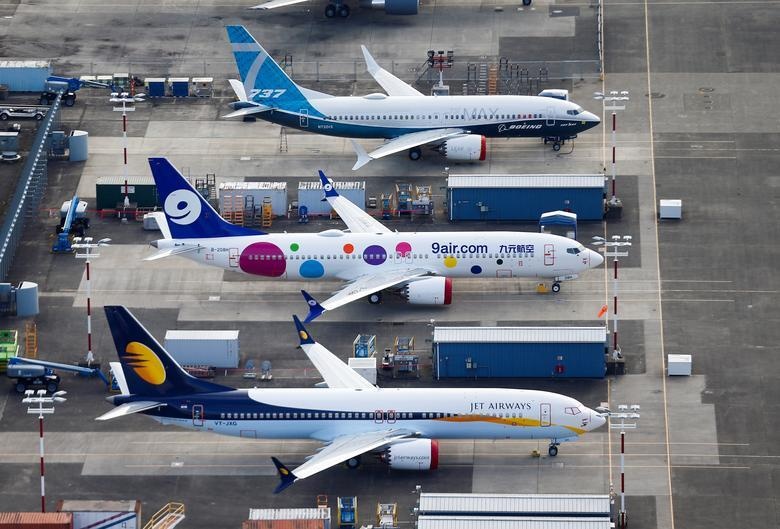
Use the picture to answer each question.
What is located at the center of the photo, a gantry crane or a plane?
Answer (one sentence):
The feature located at the center of the photo is a plane.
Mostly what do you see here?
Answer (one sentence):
What you mostly see from above here is paved ground.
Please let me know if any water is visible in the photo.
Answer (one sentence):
No, no water is visible.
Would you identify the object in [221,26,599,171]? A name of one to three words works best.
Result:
airplane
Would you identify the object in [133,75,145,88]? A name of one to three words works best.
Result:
vehicle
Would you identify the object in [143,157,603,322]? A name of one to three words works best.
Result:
airplane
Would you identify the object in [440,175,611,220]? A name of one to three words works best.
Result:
shed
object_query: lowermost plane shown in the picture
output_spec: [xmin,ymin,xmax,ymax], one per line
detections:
[99,306,607,494]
